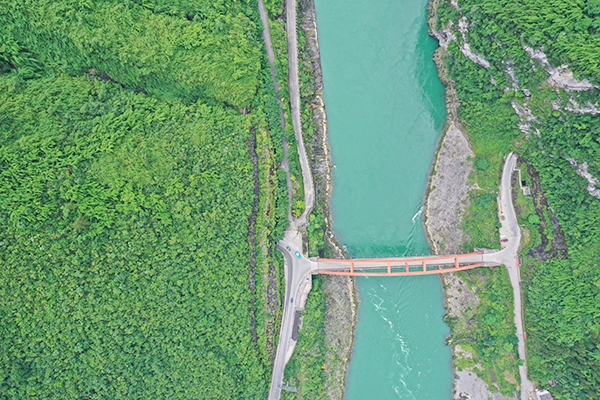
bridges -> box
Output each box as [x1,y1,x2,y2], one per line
[307,249,496,277]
